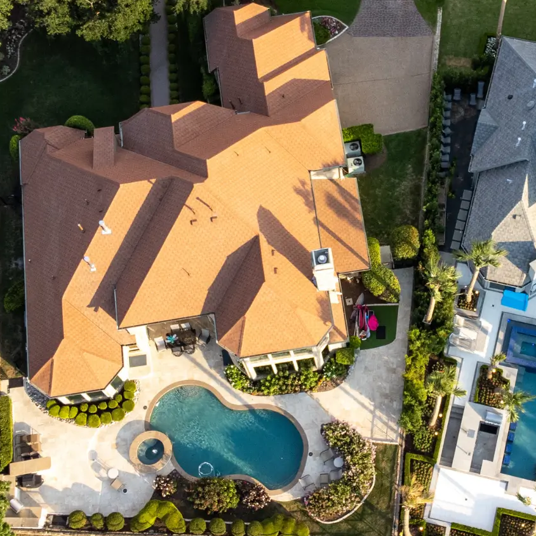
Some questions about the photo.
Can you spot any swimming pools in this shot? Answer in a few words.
Yes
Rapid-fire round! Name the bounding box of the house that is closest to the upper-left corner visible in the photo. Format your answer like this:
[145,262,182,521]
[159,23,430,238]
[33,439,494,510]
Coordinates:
[19,2,370,403]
